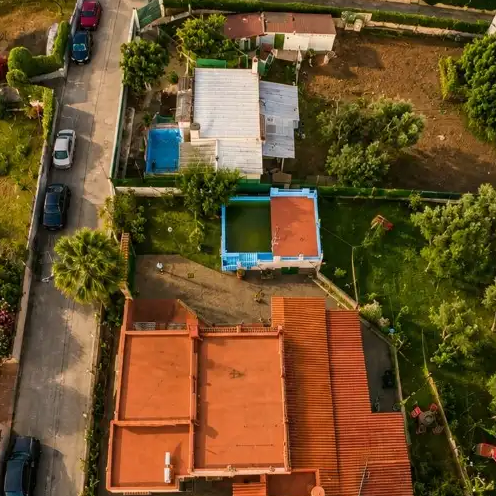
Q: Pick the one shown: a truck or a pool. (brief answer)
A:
pool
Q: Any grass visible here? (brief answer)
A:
Yes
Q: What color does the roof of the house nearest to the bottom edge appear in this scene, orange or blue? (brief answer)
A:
orange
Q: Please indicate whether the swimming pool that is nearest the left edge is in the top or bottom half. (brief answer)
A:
top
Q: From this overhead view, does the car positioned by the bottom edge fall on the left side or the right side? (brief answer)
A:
left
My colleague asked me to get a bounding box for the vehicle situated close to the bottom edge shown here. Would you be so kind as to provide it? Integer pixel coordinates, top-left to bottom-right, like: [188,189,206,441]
[5,442,39,496]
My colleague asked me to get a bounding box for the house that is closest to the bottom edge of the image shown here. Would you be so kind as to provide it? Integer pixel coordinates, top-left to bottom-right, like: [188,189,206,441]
[107,297,413,496]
